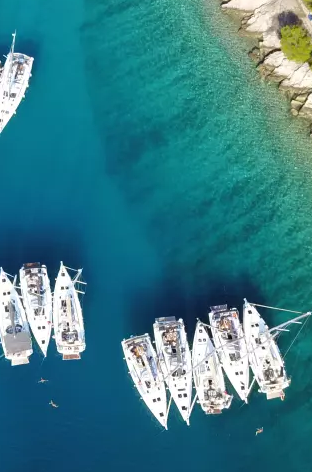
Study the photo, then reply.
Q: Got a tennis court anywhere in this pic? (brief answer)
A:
No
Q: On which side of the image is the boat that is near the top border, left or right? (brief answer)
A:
left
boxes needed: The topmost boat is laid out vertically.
[0,22,33,137]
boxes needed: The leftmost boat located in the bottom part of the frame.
[0,266,32,365]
